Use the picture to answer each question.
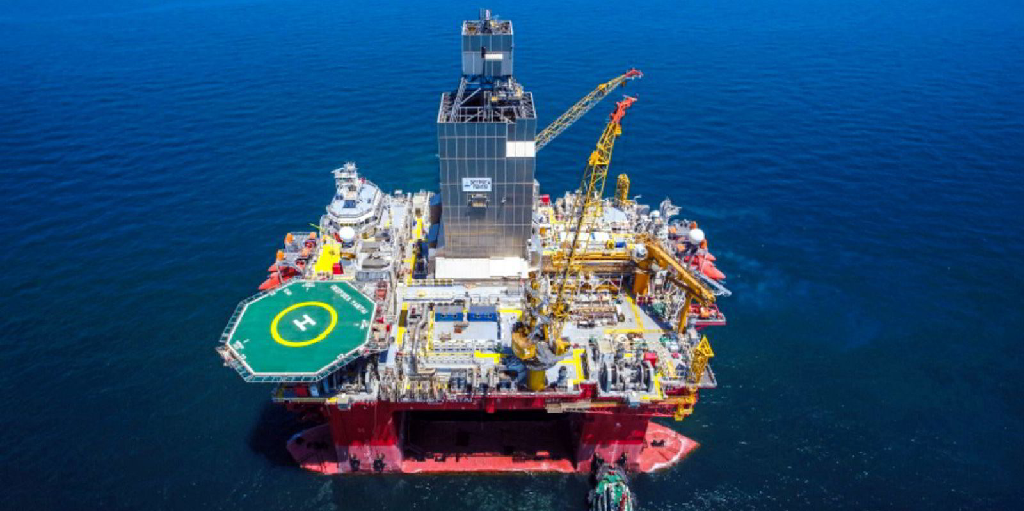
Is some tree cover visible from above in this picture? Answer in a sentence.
No, no tree cover is visible.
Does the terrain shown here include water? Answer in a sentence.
Yes, the picture does contain water.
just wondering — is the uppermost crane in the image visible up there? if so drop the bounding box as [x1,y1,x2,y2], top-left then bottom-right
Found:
[534,70,641,161]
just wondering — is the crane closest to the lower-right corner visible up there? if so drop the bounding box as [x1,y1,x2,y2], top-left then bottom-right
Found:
[623,230,717,332]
